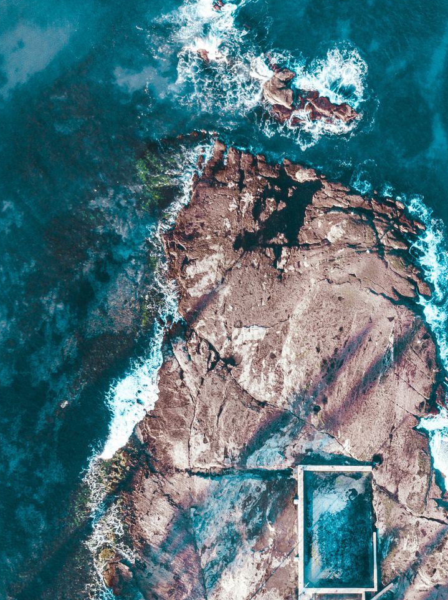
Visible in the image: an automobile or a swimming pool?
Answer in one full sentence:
The one in the frame is a swimming pool.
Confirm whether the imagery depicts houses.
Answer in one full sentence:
No, I can't see a single house in this photo.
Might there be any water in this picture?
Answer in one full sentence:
Yes, water shows up in the scene.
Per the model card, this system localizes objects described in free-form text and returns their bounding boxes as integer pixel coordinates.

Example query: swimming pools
[294,466,377,599]
[308,593,365,600]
